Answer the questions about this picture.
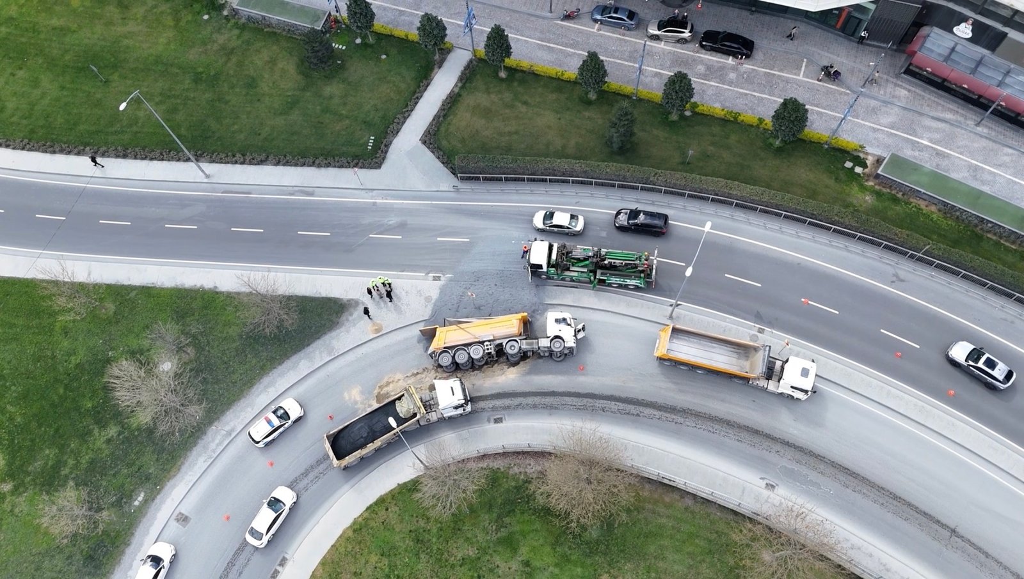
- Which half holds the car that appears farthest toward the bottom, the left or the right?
left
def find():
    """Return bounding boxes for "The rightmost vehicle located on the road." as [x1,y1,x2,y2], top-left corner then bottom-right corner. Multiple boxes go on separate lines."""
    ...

[943,346,1015,392]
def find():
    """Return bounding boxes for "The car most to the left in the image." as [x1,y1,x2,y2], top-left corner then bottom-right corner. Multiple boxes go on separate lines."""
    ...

[137,541,183,579]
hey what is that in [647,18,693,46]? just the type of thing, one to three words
car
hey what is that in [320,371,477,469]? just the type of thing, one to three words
truck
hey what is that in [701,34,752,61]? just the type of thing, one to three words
car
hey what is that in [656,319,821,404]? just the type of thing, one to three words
truck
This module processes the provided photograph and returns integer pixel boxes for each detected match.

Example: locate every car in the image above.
[247,401,307,449]
[246,485,300,550]
[614,209,668,237]
[592,7,638,31]
[701,34,752,61]
[137,541,183,579]
[647,18,693,46]
[533,209,585,236]
[943,346,1015,392]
